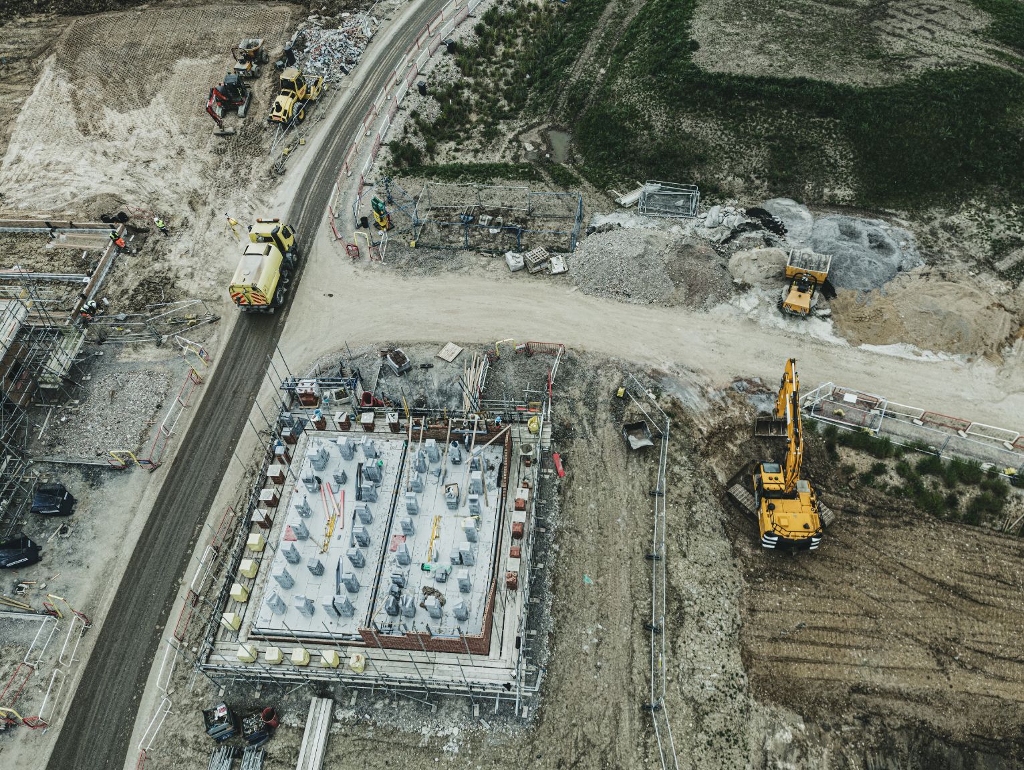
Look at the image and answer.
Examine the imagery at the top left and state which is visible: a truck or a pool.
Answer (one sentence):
Looking at the top left, you will find a truck.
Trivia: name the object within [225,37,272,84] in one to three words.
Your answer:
truck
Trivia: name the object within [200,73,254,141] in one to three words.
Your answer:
work vehicle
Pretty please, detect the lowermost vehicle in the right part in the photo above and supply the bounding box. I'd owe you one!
[722,357,838,567]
